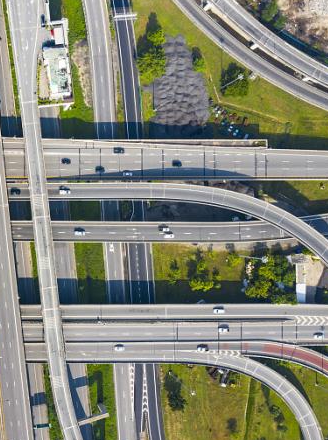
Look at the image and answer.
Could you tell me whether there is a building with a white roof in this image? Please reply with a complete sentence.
Yes, this view includes a building with a white roof.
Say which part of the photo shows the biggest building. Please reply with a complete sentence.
The biggest building is located in the top left region of the scene.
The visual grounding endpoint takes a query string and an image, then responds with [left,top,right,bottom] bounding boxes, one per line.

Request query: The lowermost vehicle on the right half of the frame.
[219,367,232,385]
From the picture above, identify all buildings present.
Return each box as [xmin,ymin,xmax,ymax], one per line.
[292,262,306,303]
[38,20,74,109]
